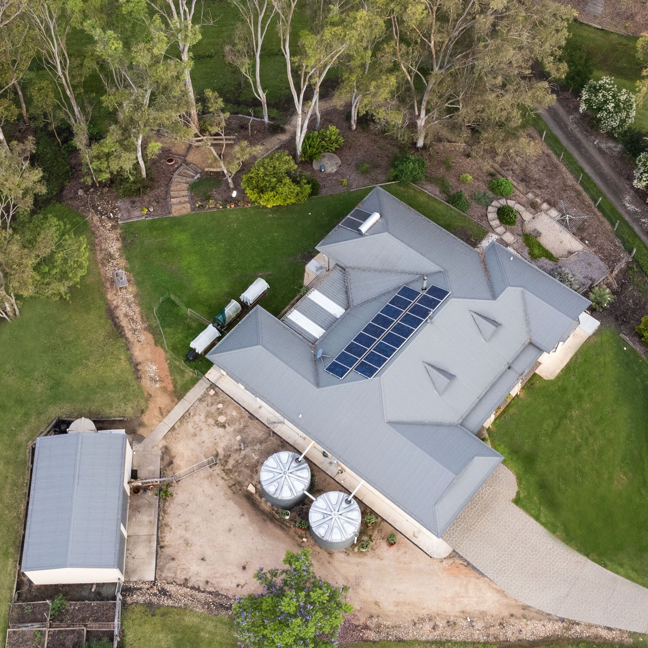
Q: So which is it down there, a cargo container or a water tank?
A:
water tank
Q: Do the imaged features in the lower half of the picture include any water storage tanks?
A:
Yes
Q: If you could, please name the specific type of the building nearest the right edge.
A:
home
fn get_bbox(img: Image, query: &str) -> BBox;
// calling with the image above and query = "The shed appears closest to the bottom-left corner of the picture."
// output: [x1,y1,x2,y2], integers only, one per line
[20,431,132,582]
